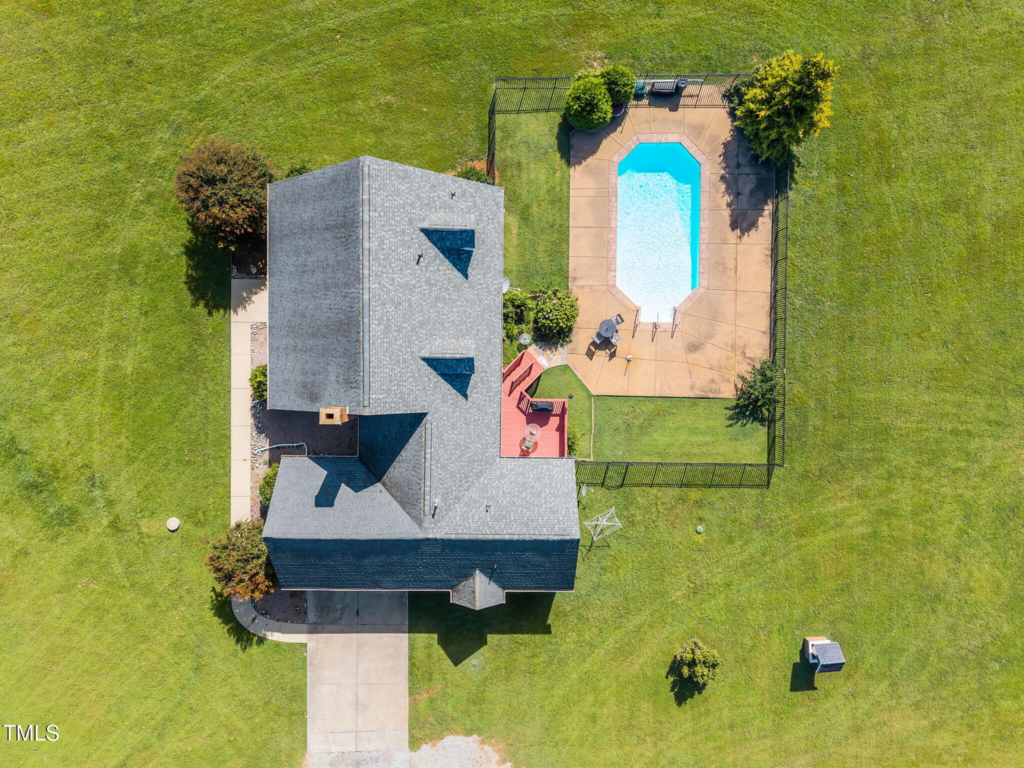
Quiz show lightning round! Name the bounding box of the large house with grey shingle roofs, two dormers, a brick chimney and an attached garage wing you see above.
[263,155,580,611]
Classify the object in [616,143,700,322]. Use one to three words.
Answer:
swimming pool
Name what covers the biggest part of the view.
grass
